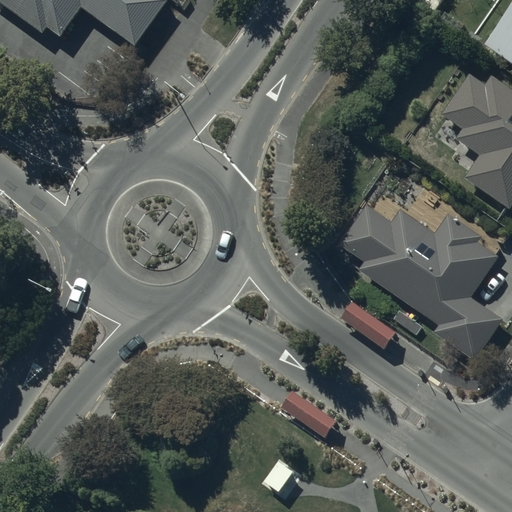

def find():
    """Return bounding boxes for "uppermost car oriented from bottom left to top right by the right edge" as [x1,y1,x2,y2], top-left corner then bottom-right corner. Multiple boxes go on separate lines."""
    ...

[480,270,506,301]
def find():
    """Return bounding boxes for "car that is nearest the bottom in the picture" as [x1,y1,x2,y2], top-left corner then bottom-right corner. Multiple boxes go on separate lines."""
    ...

[118,334,145,360]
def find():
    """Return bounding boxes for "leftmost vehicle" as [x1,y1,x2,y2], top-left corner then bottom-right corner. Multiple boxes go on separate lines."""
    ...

[66,276,86,312]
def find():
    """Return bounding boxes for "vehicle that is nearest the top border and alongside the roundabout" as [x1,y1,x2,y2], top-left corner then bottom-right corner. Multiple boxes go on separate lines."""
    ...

[215,231,232,260]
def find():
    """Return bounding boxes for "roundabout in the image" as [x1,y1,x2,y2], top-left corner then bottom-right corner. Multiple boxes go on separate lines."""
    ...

[106,178,214,286]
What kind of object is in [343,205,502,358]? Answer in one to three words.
house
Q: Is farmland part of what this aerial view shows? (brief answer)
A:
No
